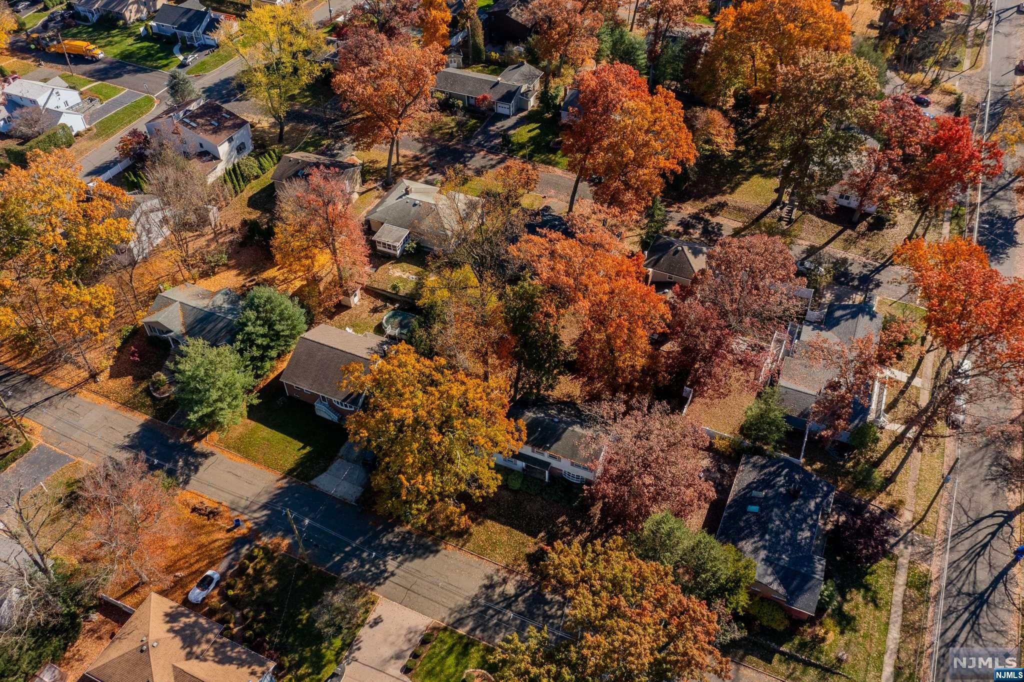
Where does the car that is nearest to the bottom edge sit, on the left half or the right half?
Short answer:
left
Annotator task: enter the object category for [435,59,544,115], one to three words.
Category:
house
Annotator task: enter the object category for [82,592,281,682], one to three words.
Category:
house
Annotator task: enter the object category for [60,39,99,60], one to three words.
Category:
truck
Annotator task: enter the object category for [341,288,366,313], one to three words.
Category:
shed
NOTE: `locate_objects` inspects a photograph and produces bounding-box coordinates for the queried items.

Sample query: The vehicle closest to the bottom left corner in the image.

[184,566,221,605]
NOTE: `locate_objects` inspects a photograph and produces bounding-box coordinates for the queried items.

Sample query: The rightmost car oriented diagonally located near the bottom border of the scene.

[317,651,352,682]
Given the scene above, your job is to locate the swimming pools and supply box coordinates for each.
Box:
[384,309,416,335]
